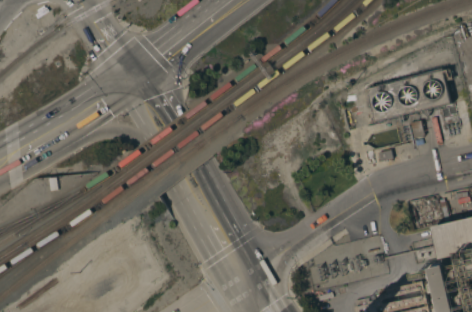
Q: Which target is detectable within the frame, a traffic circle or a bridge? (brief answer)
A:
bridge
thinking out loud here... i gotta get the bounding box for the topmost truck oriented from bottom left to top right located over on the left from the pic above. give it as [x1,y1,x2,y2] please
[168,0,202,24]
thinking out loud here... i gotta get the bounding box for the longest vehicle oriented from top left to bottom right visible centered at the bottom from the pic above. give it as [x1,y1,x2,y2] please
[253,246,279,286]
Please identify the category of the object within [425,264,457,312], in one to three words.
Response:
building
